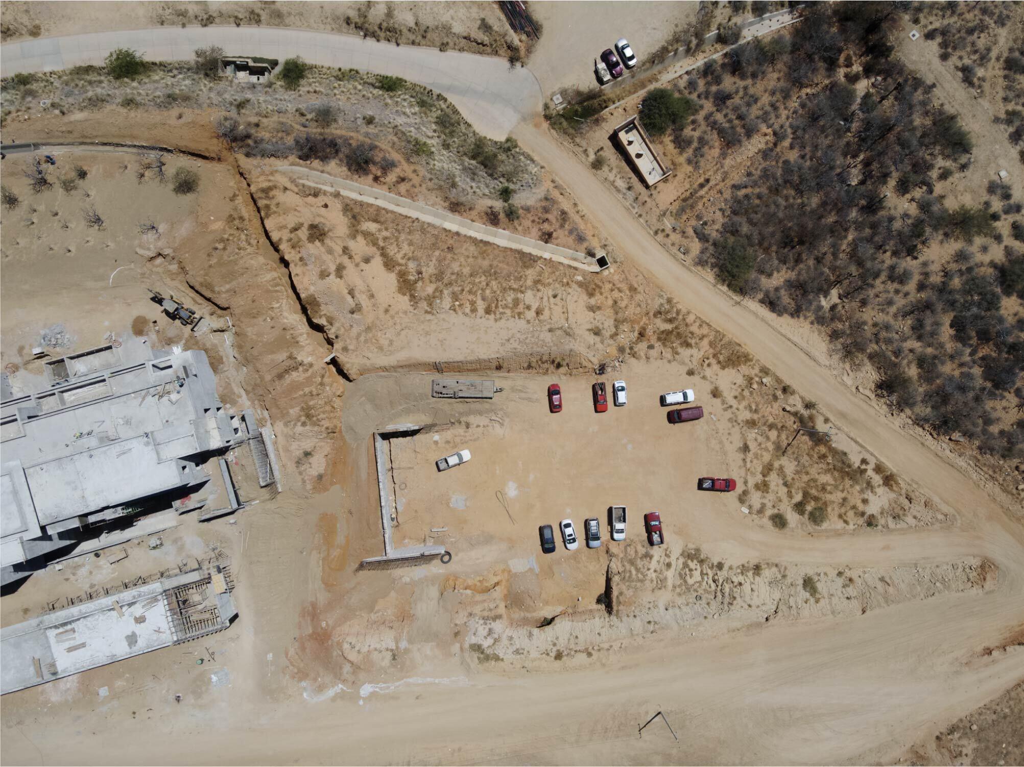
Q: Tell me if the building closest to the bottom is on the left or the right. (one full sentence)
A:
The building closest to the bottom is on the left side of the image.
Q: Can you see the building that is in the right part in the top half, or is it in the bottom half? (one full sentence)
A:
The top half of the photo is where the building that is in the right part is.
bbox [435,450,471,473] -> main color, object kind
white truck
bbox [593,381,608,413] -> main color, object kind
red vehicle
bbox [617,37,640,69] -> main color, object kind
white car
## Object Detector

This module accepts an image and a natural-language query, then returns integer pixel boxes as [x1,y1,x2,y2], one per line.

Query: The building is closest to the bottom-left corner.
[0,334,258,586]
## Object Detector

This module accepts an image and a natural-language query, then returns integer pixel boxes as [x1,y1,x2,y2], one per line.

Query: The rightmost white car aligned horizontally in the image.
[660,389,695,406]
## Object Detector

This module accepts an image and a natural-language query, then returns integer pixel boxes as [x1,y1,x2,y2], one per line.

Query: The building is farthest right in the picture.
[613,115,672,191]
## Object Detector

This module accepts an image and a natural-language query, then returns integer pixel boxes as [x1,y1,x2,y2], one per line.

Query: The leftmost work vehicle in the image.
[145,287,204,333]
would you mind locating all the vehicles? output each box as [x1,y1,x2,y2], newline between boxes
[604,48,625,78]
[611,505,627,540]
[435,450,471,473]
[613,381,627,407]
[667,405,705,425]
[593,381,608,413]
[145,287,204,333]
[698,477,736,493]
[645,512,664,547]
[540,524,556,554]
[660,389,695,406]
[595,62,612,85]
[617,37,640,69]
[548,384,563,413]
[560,519,578,550]
[586,518,602,548]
